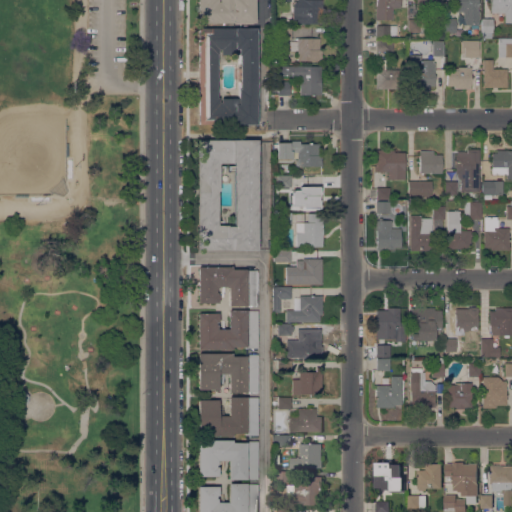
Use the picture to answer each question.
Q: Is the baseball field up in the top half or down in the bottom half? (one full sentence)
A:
The baseball field sits in the top half of the picture.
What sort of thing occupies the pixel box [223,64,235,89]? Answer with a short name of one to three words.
swimming pool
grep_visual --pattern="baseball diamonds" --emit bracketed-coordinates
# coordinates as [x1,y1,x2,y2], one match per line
[0,0,89,222]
